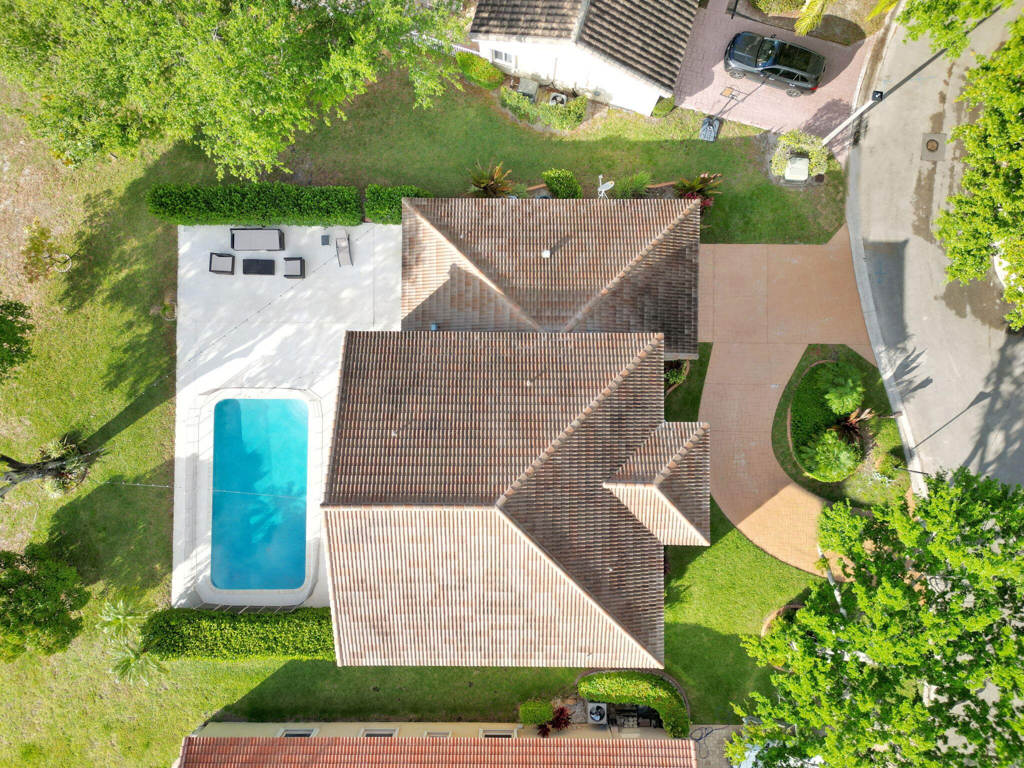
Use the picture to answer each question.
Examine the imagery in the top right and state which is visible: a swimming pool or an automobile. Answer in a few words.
automobile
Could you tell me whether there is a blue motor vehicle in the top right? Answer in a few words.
No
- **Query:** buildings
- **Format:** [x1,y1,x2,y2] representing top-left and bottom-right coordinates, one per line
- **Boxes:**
[176,724,702,768]
[468,0,702,110]
[319,196,714,671]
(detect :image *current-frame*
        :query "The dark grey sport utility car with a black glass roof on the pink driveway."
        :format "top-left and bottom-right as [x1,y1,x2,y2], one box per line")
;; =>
[722,35,828,101]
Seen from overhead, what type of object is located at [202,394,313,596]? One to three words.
swimming pool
